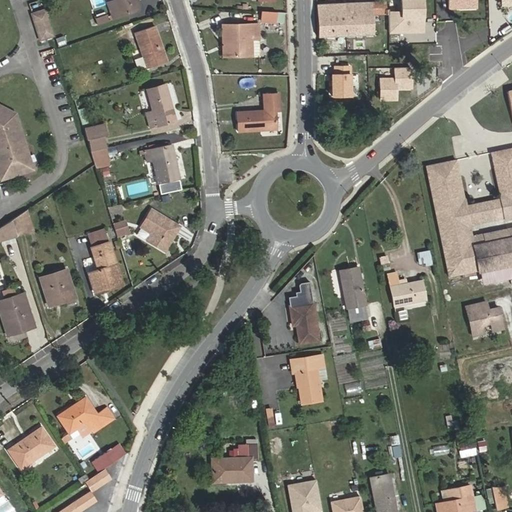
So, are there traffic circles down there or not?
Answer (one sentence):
Yes, looking at the shot, I can spot a traffic circle.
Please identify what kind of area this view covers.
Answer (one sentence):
It's a residential area.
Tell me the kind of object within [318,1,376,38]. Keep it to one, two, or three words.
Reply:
house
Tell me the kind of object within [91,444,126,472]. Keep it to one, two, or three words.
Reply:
barn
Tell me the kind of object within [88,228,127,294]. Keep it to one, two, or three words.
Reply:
house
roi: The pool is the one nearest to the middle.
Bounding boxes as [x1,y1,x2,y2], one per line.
[120,178,153,200]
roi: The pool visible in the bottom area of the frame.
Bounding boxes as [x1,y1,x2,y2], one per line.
[68,432,100,460]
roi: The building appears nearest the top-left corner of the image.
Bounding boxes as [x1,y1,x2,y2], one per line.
[30,8,54,42]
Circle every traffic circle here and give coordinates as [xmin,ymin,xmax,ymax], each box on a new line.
[250,154,342,246]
